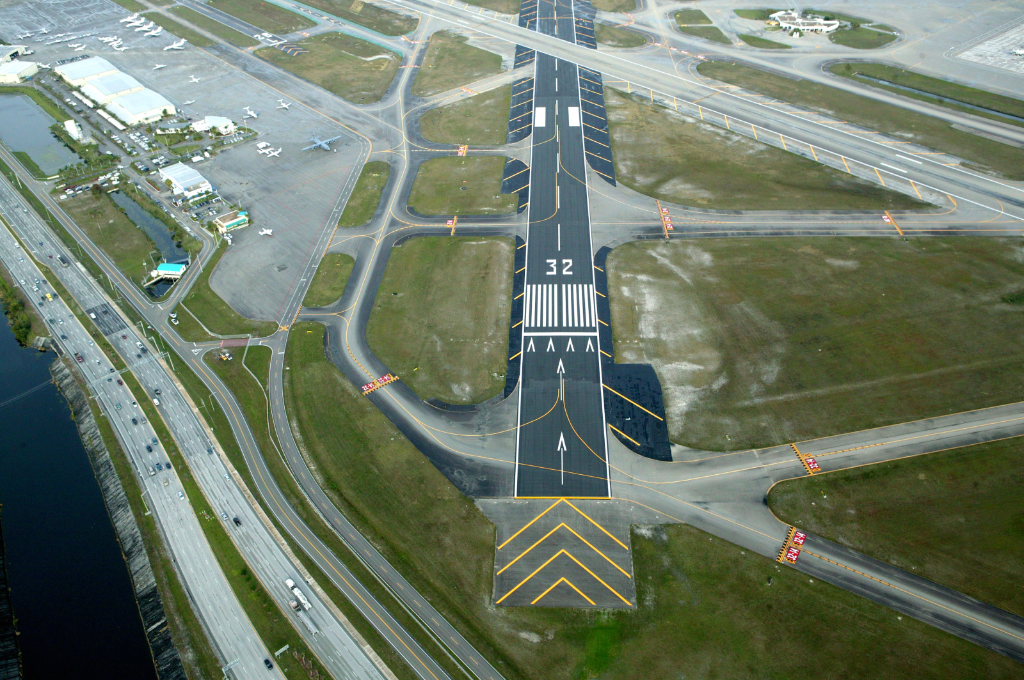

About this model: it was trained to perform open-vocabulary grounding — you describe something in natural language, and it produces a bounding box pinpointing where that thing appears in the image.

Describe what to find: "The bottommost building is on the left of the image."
[157,264,188,280]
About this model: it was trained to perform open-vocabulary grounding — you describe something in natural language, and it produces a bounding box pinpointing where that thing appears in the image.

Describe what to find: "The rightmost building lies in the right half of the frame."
[770,11,839,35]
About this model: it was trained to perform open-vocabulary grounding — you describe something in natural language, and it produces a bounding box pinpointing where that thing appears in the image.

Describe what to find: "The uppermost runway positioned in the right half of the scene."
[386,0,1024,219]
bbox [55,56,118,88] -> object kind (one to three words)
hangar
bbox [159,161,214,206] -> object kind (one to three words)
hangar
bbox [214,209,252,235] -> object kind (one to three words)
building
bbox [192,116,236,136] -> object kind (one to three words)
building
